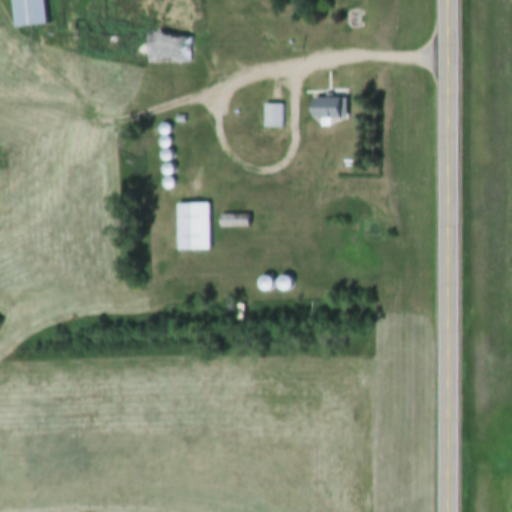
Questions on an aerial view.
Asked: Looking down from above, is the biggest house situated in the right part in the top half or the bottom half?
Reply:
top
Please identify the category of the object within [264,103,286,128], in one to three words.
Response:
shed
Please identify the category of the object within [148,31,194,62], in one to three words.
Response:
barn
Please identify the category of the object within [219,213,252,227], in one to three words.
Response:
shed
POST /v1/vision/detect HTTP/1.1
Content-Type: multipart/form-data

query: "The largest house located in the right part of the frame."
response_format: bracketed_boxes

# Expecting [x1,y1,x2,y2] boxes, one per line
[310,92,348,127]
